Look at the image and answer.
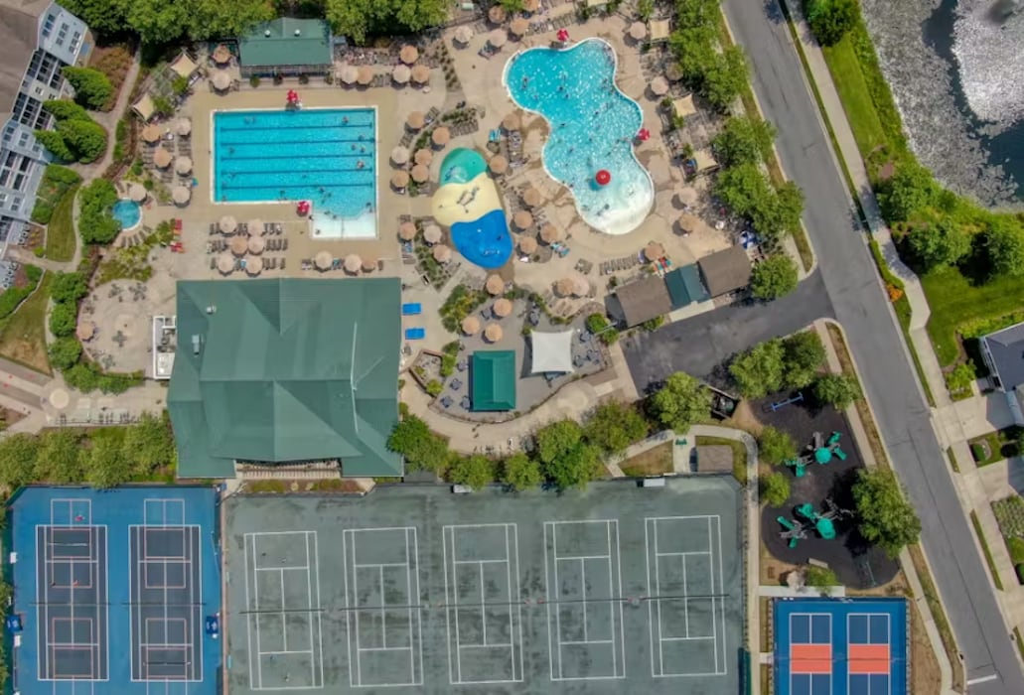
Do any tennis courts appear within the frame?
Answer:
Yes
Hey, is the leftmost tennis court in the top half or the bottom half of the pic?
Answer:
bottom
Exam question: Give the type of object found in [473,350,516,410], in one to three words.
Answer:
shed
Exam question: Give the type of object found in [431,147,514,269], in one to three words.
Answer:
swimming pool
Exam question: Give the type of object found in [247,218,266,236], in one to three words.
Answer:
umbrella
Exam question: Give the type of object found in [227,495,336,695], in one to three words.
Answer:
tennis court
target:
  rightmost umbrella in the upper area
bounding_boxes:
[738,232,754,248]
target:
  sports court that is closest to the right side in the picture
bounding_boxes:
[840,599,907,695]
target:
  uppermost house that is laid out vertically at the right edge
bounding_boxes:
[978,321,1024,427]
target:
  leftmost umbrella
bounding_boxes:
[78,321,97,340]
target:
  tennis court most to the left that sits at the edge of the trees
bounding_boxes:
[14,489,119,695]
